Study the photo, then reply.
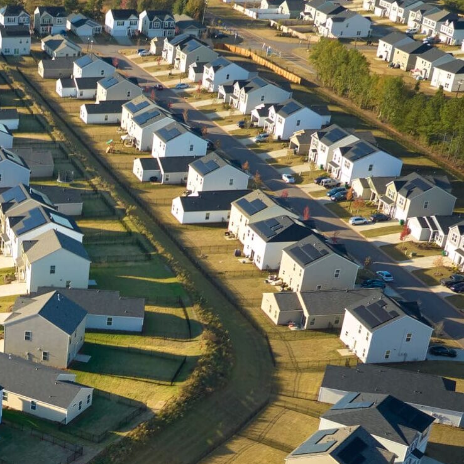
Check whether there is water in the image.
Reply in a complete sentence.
No, water can't be seen anywhere here.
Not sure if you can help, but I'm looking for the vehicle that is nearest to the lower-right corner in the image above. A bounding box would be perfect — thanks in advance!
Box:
[428,343,458,355]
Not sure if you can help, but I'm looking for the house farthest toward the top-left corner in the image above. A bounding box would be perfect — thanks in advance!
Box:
[0,4,31,27]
